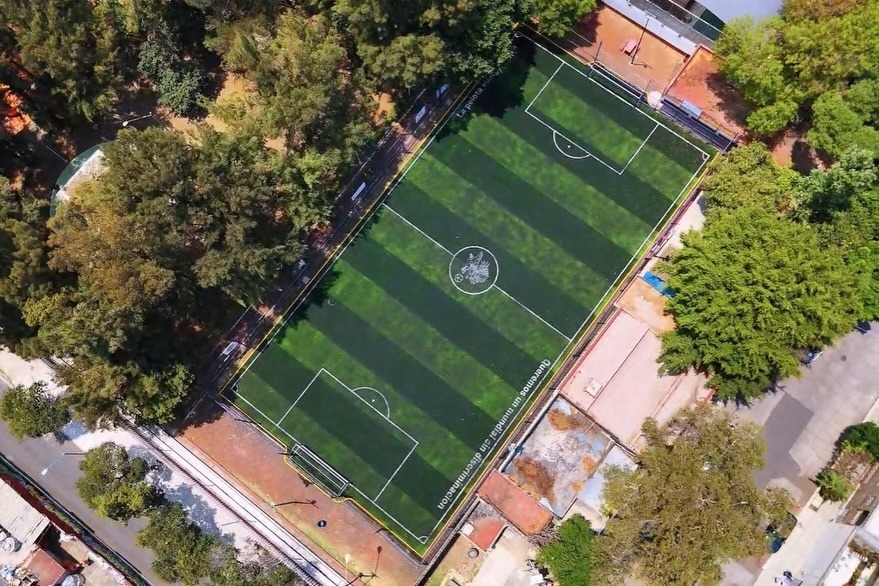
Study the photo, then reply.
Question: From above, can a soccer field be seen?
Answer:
Yes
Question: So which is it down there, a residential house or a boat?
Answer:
residential house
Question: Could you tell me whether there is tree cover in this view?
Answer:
Yes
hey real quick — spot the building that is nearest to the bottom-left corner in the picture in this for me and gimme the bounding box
[14,547,76,586]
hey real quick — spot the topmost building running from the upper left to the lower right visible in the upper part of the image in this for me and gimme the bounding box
[597,0,696,57]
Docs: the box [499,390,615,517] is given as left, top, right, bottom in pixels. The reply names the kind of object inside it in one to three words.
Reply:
house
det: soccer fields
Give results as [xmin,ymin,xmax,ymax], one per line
[216,22,715,560]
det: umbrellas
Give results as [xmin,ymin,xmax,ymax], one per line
[646,93,664,112]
